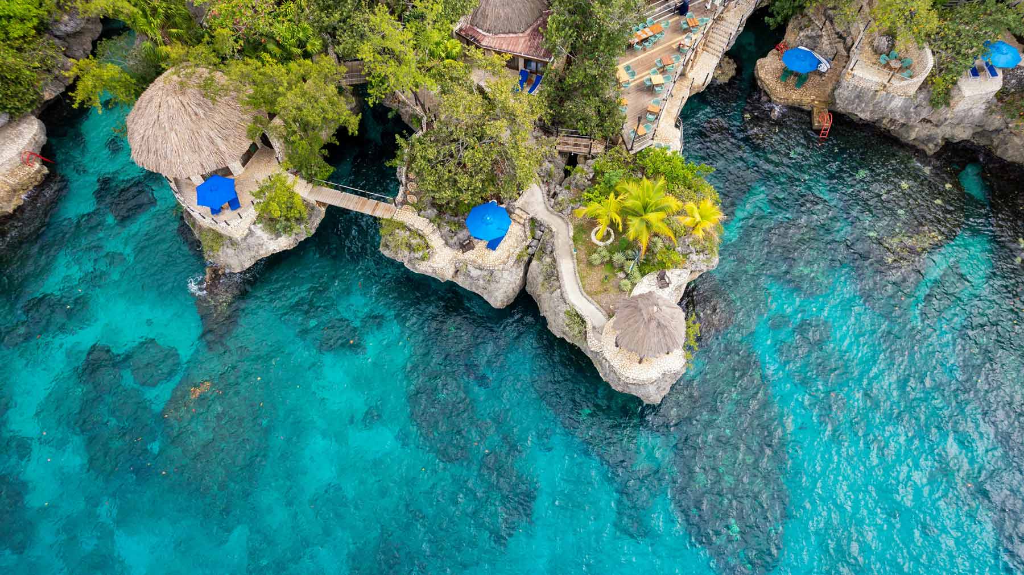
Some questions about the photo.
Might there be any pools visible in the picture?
No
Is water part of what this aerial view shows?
Yes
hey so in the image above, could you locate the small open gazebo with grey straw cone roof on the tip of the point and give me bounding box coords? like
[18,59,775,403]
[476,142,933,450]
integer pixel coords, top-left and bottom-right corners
[612,292,686,366]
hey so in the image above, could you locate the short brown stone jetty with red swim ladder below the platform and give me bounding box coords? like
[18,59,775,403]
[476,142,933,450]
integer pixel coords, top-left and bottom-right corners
[806,106,829,142]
